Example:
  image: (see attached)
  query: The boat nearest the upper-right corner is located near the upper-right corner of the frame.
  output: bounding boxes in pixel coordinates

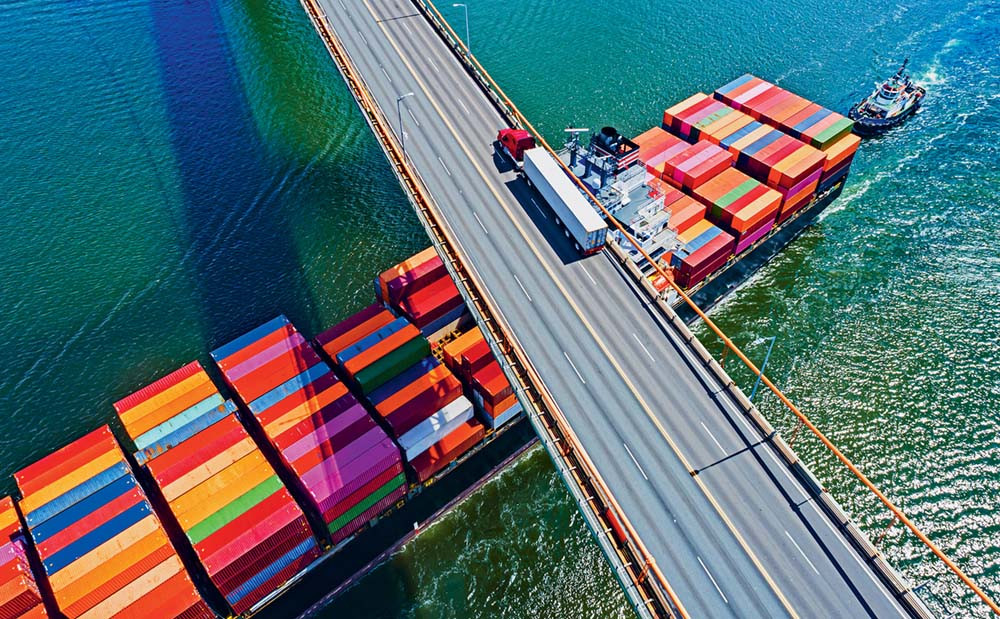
[843,53,934,131]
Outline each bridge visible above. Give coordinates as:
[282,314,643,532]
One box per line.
[296,0,1000,619]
